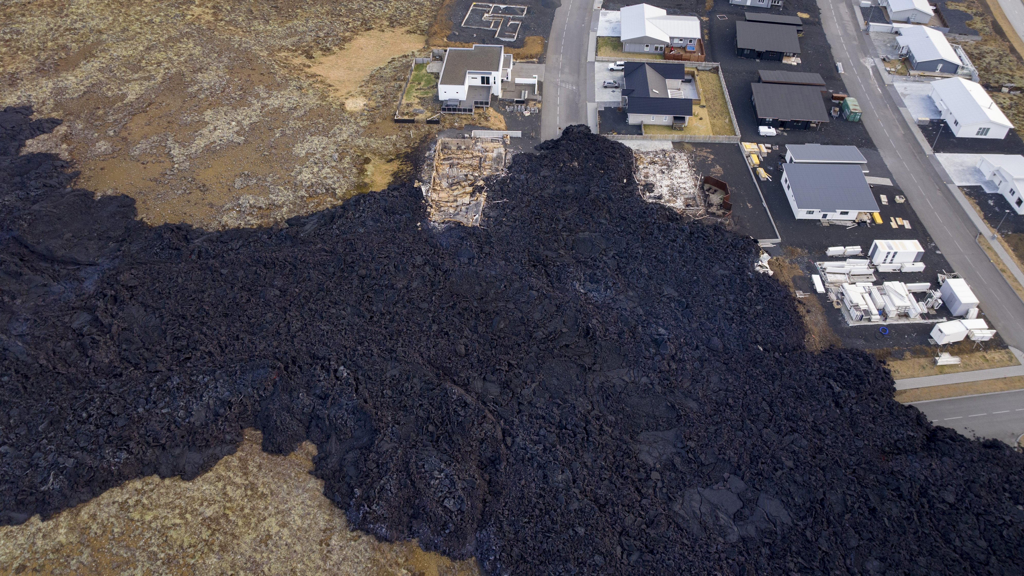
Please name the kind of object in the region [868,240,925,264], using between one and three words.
building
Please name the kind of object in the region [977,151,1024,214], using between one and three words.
house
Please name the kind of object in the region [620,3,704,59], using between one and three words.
house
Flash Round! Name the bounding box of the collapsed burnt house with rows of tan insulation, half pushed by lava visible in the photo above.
[427,136,510,228]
